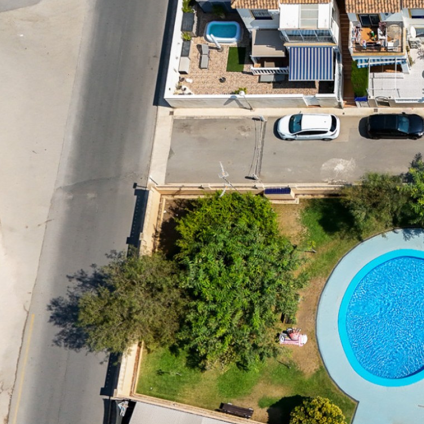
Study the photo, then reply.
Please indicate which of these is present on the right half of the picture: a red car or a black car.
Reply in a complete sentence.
The one visible on the right half of the picture is a black car.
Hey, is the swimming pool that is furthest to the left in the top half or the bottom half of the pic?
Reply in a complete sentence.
The swimming pool that is furthest to the left sits in the top half of the picture.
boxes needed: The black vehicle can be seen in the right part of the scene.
[366,111,424,141]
